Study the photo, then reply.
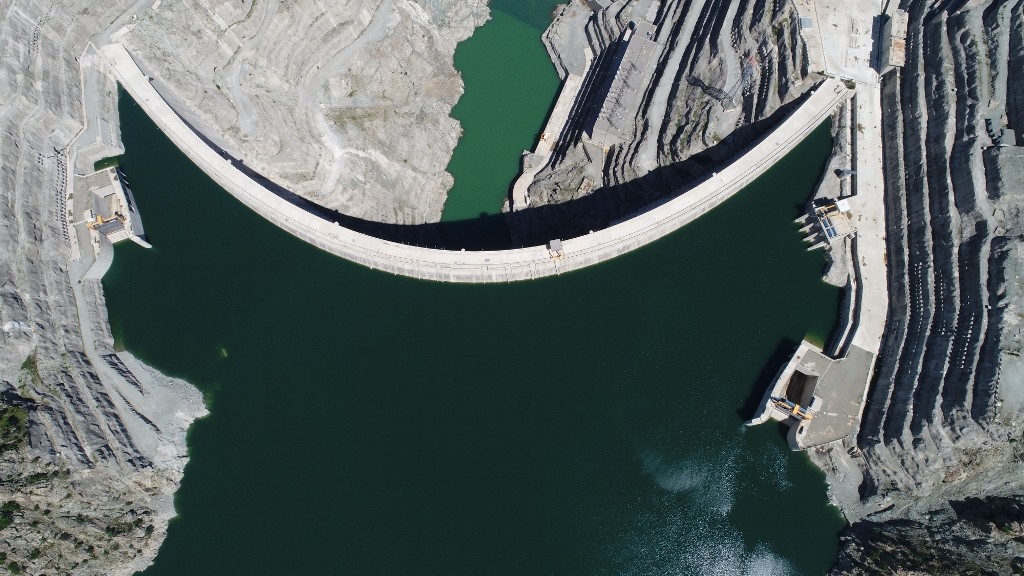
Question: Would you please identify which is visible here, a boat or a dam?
dam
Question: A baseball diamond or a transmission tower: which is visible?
transmission tower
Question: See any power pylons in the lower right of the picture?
No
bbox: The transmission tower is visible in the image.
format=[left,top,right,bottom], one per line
[716,70,762,114]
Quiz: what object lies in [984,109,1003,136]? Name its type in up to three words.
shed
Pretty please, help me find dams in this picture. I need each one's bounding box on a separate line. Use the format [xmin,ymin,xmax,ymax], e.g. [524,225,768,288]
[99,41,848,283]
